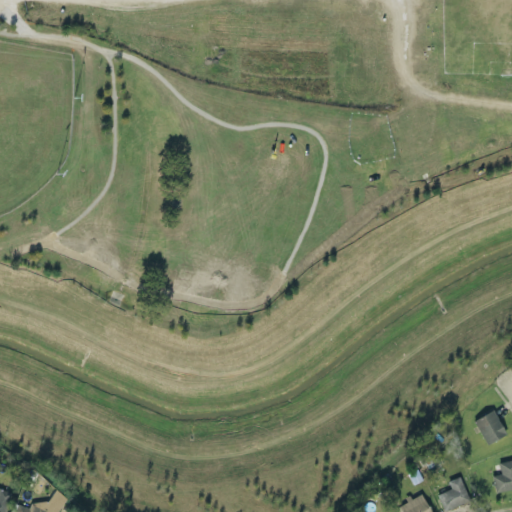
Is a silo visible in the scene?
No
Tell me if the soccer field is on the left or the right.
right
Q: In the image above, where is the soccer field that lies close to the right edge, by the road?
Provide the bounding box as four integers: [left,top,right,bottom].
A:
[443,0,512,75]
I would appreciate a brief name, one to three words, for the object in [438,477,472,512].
house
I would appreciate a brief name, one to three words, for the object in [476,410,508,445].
house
